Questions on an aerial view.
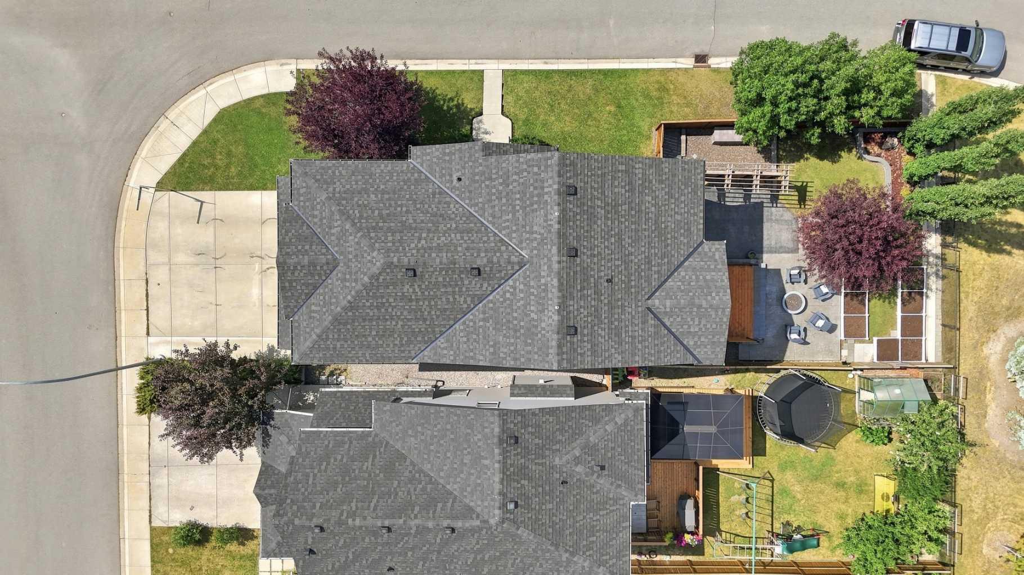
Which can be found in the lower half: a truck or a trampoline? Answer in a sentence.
Visible in the lower half is a trampoline.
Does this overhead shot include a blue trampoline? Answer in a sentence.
No, the frame has no blue trampoline in it.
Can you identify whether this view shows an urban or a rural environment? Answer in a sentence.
The area is urban.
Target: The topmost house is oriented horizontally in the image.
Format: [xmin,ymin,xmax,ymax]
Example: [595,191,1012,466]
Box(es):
[274,141,732,371]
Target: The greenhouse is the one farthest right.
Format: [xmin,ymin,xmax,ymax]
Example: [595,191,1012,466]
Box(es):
[855,374,928,418]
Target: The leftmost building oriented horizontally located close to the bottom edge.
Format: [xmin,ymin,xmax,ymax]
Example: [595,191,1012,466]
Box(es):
[252,377,652,575]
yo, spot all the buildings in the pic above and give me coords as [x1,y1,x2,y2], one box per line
[855,374,928,418]
[252,377,652,575]
[274,141,732,371]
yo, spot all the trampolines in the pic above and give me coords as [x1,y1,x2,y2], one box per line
[752,368,852,456]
